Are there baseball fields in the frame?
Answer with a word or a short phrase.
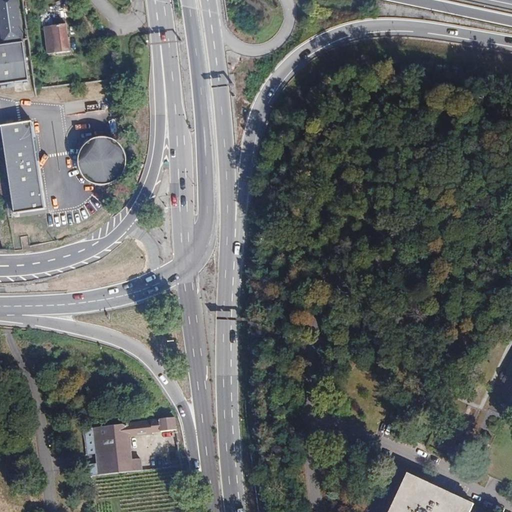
No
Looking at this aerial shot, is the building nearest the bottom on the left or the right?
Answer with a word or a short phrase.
right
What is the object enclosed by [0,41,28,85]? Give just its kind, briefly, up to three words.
building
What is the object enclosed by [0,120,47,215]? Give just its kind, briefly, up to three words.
building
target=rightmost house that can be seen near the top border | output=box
[43,23,70,55]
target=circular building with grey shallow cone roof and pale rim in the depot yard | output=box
[76,136,126,187]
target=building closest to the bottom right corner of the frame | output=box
[385,470,474,512]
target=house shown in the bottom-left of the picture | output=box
[84,416,177,476]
